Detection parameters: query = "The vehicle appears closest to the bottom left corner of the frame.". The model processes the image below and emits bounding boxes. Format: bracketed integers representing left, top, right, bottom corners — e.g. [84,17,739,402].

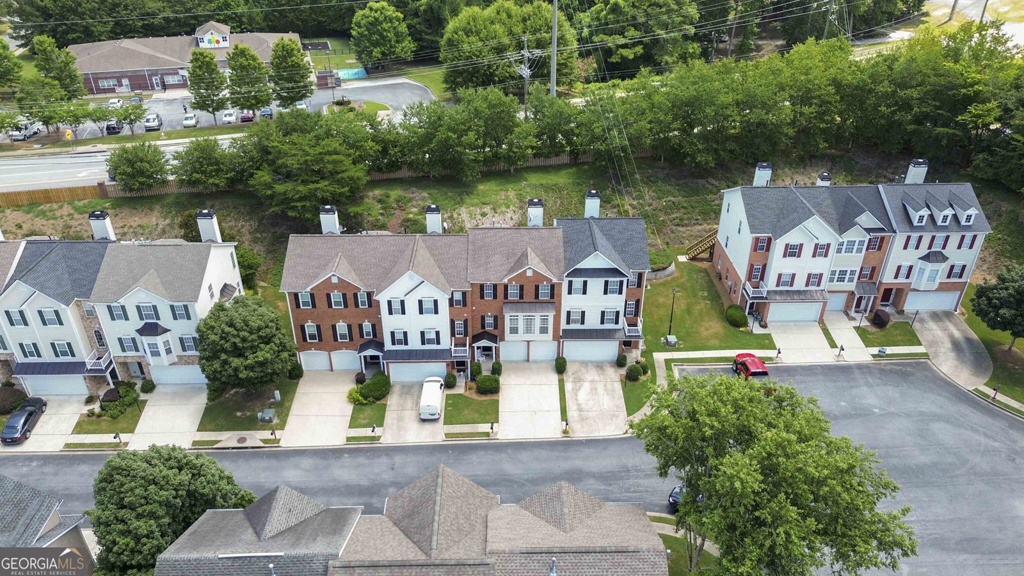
[2,397,49,441]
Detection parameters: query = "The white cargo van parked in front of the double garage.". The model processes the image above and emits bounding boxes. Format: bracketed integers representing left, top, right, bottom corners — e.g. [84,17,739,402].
[417,374,446,418]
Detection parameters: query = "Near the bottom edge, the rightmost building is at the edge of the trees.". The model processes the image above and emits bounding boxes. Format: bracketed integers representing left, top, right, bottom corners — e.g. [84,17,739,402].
[489,481,671,576]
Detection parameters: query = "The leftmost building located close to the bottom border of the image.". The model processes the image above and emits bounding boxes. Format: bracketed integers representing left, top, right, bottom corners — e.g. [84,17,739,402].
[0,473,100,576]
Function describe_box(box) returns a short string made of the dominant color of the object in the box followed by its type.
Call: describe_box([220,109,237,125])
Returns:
white car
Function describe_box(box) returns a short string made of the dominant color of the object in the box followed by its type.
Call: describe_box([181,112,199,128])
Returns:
white car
